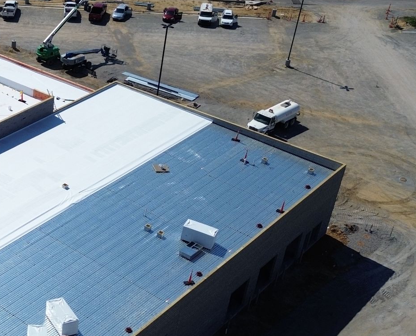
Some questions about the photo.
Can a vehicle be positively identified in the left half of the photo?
Yes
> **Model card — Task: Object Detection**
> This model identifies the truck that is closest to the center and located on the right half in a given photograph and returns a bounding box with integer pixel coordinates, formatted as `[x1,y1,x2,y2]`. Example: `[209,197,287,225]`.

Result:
[244,96,306,137]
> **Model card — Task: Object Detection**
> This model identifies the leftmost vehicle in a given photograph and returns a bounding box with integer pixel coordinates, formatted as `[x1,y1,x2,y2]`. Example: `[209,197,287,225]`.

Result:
[2,0,19,18]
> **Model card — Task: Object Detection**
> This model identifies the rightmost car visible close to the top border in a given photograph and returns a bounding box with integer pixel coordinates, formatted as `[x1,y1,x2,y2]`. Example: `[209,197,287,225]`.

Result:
[212,9,234,28]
